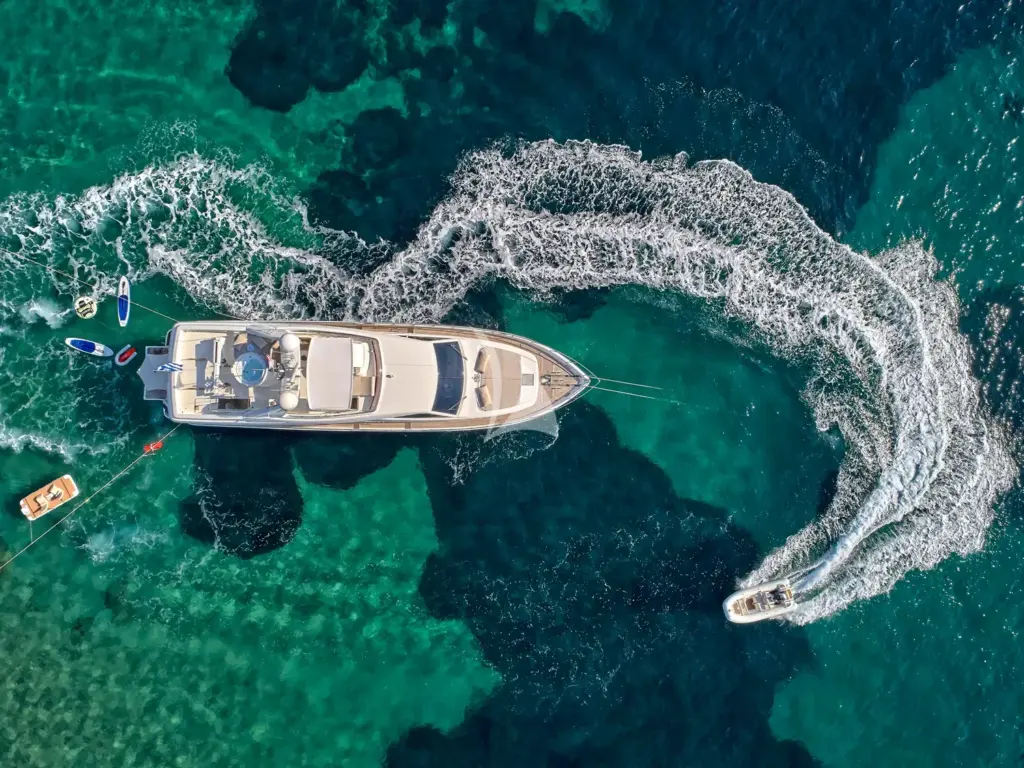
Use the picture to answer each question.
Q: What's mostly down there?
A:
water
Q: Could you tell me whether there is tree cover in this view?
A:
No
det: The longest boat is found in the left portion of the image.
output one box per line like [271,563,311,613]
[136,321,600,432]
